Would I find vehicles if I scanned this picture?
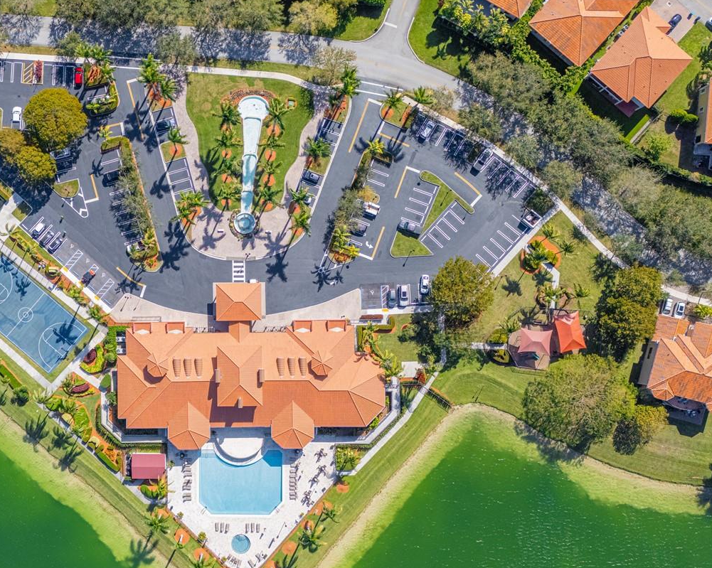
Yes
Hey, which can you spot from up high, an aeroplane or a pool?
pool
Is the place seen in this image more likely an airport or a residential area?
residential area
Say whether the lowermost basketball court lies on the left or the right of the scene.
left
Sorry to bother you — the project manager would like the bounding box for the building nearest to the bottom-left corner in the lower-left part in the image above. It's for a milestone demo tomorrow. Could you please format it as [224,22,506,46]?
[132,455,166,479]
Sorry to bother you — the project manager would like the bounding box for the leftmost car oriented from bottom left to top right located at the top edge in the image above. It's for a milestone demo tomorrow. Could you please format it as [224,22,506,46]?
[666,12,682,31]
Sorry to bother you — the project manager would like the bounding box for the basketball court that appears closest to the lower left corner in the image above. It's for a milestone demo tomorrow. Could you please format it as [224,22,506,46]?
[0,252,90,376]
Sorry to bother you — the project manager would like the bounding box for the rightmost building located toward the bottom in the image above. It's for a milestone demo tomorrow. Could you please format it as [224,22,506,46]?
[639,315,712,426]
